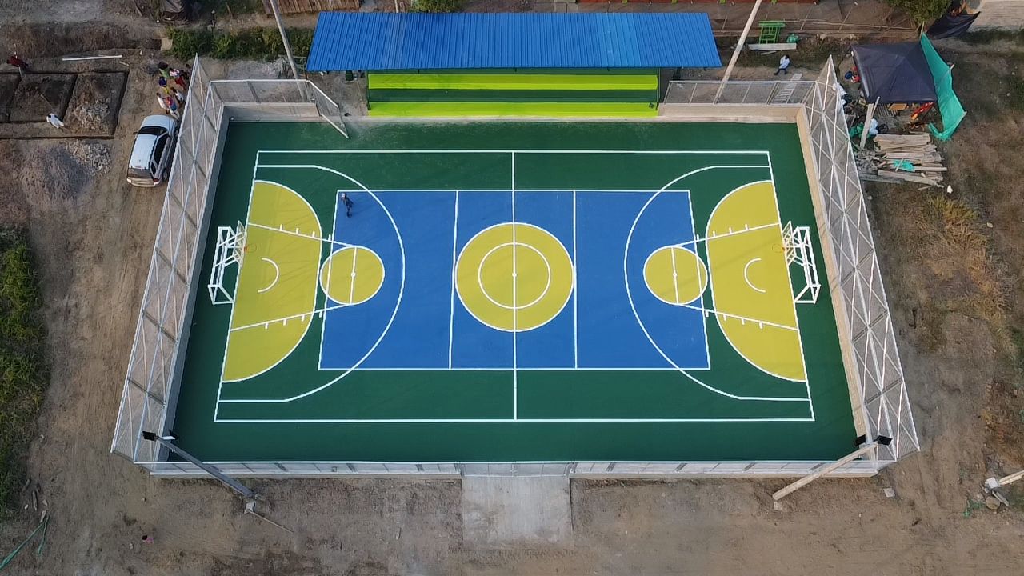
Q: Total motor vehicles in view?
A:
one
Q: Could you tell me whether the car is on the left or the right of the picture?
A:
left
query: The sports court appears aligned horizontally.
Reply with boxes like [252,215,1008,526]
[165,116,863,467]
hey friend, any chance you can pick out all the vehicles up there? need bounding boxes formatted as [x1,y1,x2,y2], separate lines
[125,115,175,185]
